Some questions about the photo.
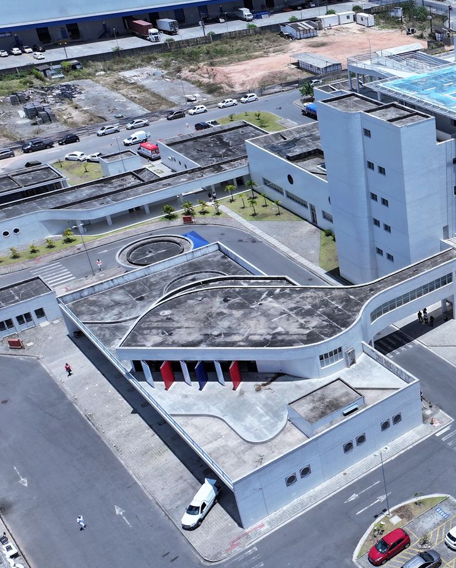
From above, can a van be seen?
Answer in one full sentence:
Yes, the image includes a van.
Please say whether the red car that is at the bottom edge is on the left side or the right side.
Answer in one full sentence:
You can find the red car that is at the bottom edge on the right side of the picture.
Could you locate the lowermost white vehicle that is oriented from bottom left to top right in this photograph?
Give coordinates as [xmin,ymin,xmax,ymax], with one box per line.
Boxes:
[178,472,229,526]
